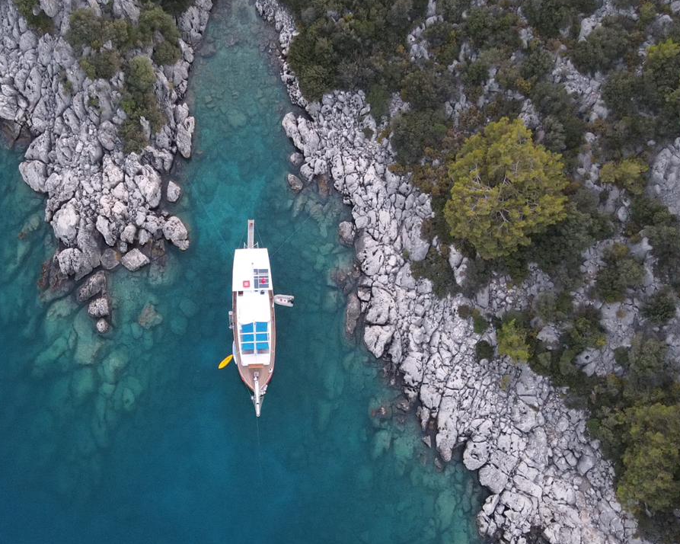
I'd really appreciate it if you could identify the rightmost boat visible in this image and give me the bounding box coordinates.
[275,294,295,307]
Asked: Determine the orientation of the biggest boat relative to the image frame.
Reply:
up and down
